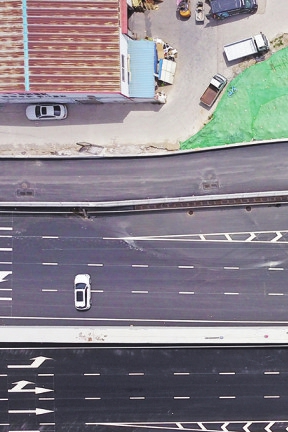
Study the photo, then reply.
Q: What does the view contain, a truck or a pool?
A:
truck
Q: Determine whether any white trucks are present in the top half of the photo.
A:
Yes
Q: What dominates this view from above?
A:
paved ground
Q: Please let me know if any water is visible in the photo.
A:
No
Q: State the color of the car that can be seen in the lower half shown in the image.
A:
white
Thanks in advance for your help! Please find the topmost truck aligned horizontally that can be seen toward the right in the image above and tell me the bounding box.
[205,0,260,23]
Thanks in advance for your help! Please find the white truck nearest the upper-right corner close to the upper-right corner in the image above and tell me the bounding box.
[221,31,274,63]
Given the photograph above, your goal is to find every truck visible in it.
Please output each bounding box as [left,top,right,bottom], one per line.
[199,74,227,108]
[205,0,260,23]
[221,31,274,63]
